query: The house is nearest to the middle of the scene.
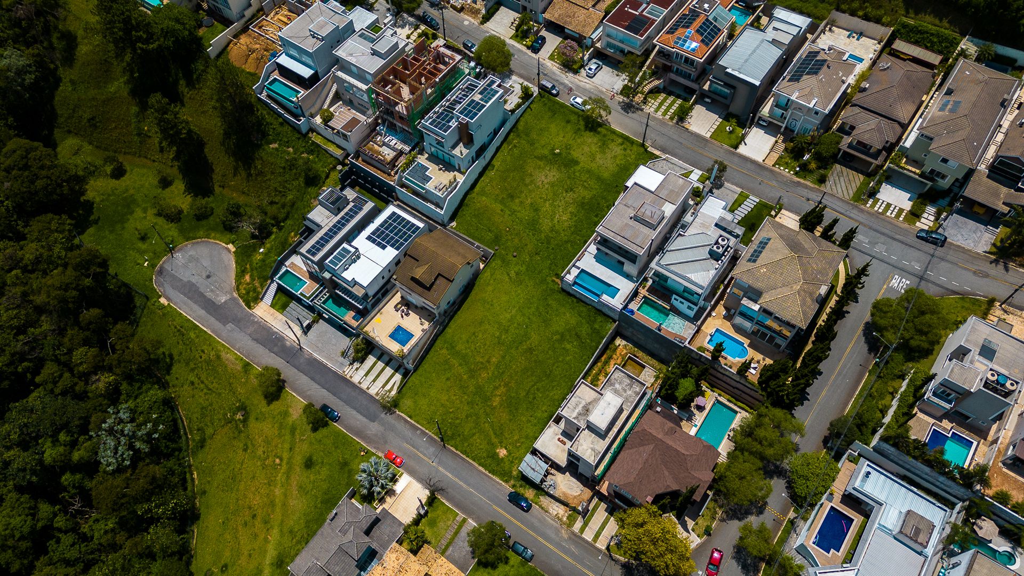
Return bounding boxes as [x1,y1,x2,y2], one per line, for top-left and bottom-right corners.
[392,228,483,319]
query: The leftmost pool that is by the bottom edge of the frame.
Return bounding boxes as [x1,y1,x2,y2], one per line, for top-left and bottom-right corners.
[808,502,860,559]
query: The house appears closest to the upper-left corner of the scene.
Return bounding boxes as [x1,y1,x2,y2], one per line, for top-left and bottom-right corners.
[205,0,265,36]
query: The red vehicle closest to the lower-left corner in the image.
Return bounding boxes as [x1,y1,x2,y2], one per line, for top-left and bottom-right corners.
[381,447,405,467]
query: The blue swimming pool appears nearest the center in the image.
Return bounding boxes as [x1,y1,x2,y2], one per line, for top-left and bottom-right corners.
[571,267,621,301]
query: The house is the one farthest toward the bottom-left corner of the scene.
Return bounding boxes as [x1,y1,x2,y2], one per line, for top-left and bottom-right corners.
[285,481,404,576]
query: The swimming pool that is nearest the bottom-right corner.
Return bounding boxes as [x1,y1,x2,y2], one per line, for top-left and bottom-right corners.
[950,527,1020,569]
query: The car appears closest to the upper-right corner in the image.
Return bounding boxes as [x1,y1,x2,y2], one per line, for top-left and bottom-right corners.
[973,202,988,216]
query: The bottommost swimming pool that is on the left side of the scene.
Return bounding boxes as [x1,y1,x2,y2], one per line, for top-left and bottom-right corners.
[384,321,419,350]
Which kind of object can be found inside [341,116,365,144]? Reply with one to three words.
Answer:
shed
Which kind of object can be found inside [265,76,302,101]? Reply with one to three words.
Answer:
swimming pool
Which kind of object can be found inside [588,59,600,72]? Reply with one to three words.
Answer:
vehicle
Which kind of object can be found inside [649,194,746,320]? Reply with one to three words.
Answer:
house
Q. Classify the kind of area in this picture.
residential area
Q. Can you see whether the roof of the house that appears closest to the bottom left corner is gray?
Yes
